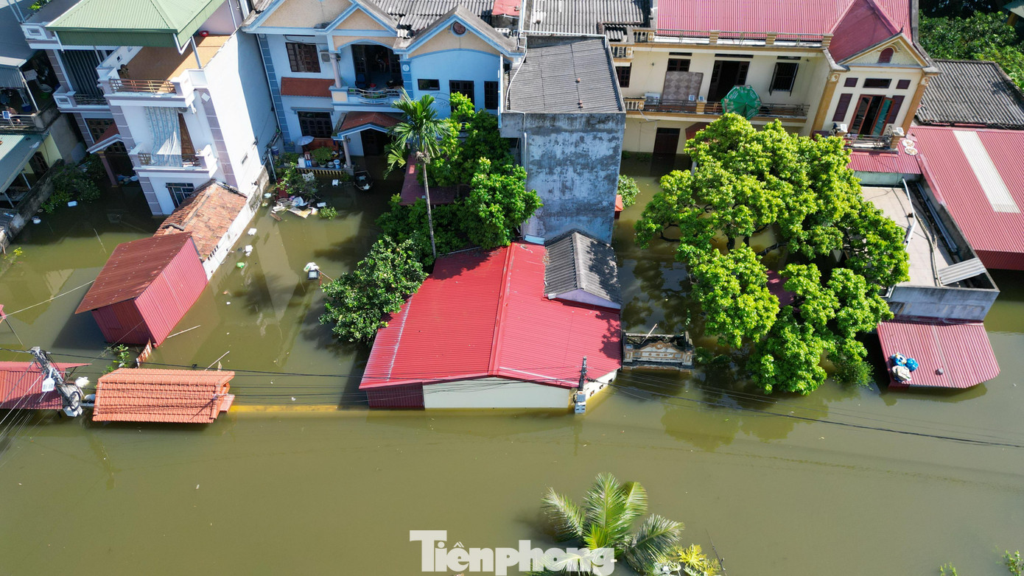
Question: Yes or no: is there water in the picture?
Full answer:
Yes, there's water in this view.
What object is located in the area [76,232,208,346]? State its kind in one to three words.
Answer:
shed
